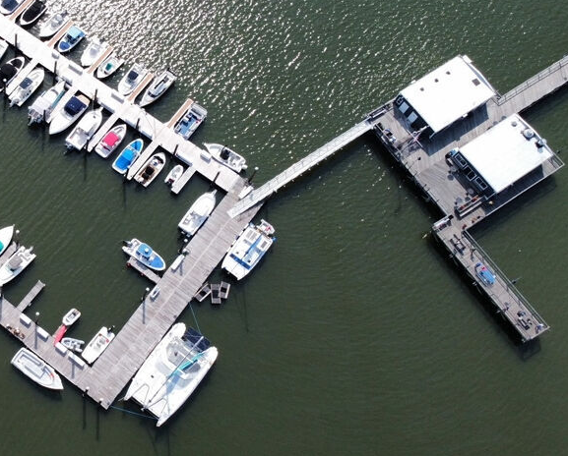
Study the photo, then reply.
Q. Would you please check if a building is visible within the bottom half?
No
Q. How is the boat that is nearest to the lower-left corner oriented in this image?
on a diagonal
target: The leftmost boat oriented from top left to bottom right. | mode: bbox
[12,349,63,389]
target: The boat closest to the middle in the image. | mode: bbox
[259,218,275,233]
